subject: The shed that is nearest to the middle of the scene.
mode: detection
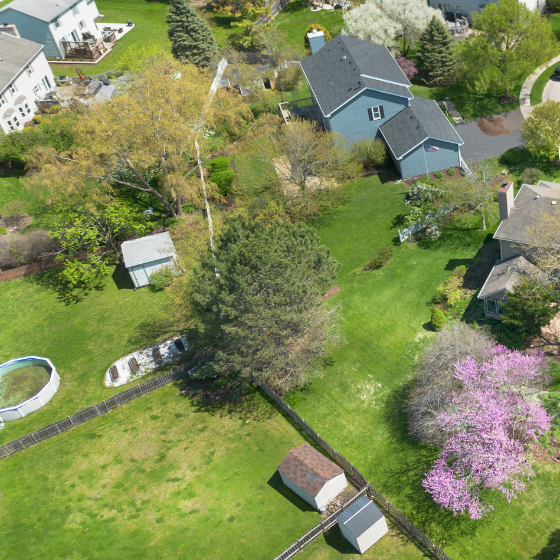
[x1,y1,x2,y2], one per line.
[116,232,175,289]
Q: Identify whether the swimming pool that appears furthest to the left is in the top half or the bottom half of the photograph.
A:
bottom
